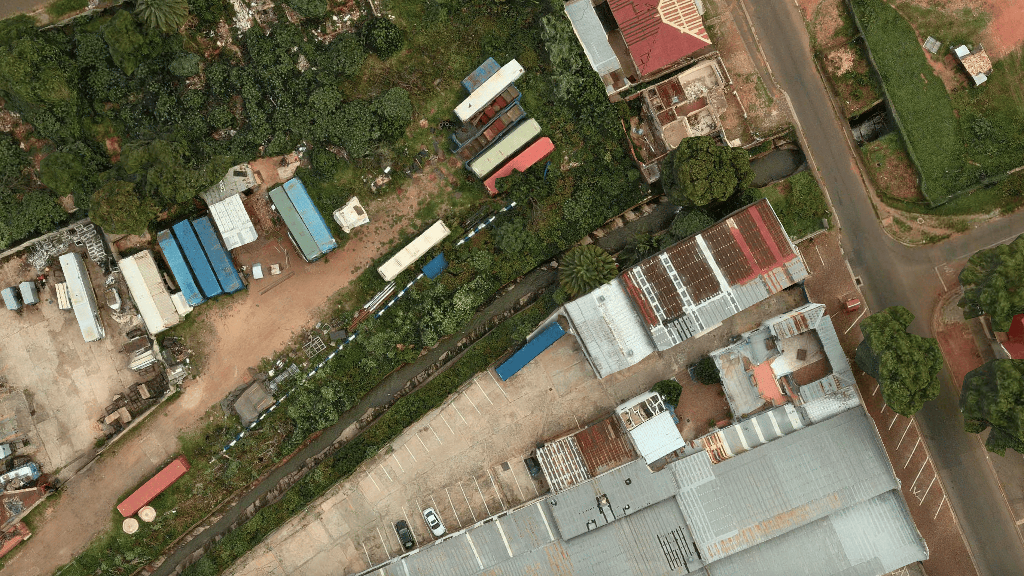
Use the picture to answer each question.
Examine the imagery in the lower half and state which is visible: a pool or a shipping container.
shipping container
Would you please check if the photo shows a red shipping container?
Yes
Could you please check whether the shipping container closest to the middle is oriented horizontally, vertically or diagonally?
diagonally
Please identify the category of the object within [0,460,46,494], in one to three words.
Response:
truck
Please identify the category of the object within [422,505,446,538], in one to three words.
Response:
car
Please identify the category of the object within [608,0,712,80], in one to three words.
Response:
house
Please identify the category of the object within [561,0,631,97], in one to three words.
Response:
shed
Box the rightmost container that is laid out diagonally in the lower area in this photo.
[495,320,564,380]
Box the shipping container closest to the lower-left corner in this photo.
[117,456,190,517]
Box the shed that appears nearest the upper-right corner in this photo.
[949,45,993,87]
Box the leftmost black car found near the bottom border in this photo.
[396,518,415,550]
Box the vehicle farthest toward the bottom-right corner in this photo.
[524,454,542,479]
